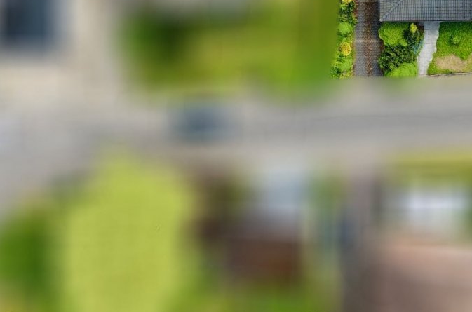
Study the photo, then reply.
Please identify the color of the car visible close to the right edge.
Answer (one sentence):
The car visible close to the right edge is white.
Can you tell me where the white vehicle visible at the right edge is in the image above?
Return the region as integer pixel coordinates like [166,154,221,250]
[403,183,470,217]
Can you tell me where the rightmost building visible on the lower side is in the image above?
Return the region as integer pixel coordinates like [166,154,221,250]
[376,230,472,312]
